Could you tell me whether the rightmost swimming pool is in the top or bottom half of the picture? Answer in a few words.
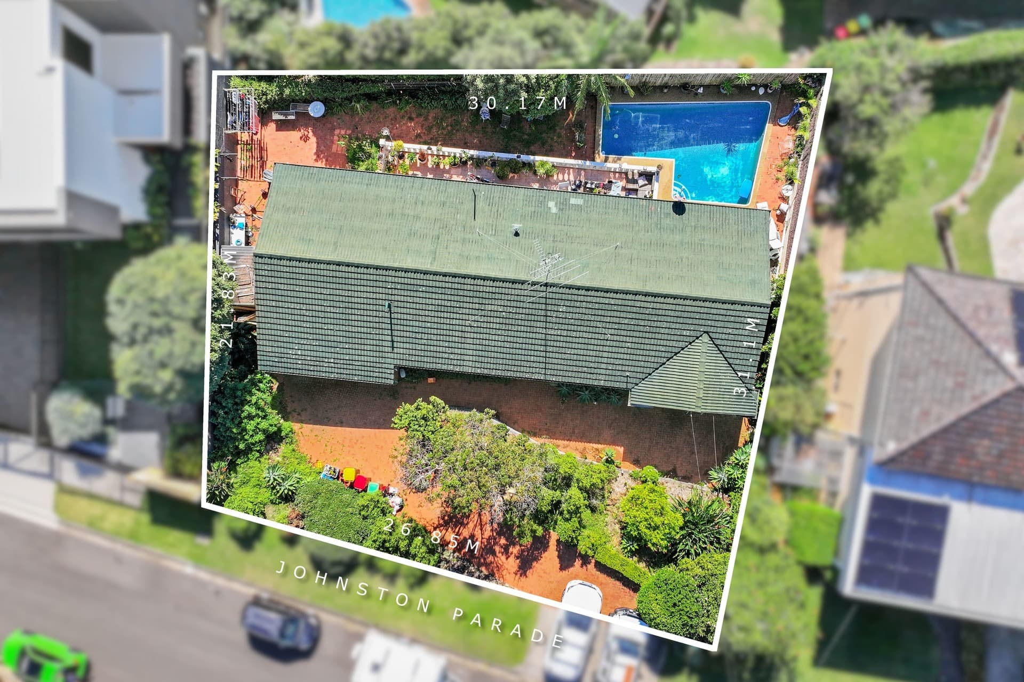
top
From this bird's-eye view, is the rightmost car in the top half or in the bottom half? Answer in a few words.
bottom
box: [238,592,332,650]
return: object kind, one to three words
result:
car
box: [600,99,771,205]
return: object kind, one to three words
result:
swimming pool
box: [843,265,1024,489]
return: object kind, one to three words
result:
house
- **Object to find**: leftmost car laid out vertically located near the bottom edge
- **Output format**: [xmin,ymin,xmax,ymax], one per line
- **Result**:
[549,577,600,682]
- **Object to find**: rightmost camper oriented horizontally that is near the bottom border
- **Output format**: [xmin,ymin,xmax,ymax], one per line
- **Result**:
[350,629,468,682]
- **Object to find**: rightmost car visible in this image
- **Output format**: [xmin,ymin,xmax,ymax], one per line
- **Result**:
[601,612,649,682]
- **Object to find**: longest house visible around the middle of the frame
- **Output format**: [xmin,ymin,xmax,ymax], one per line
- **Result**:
[253,162,774,418]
